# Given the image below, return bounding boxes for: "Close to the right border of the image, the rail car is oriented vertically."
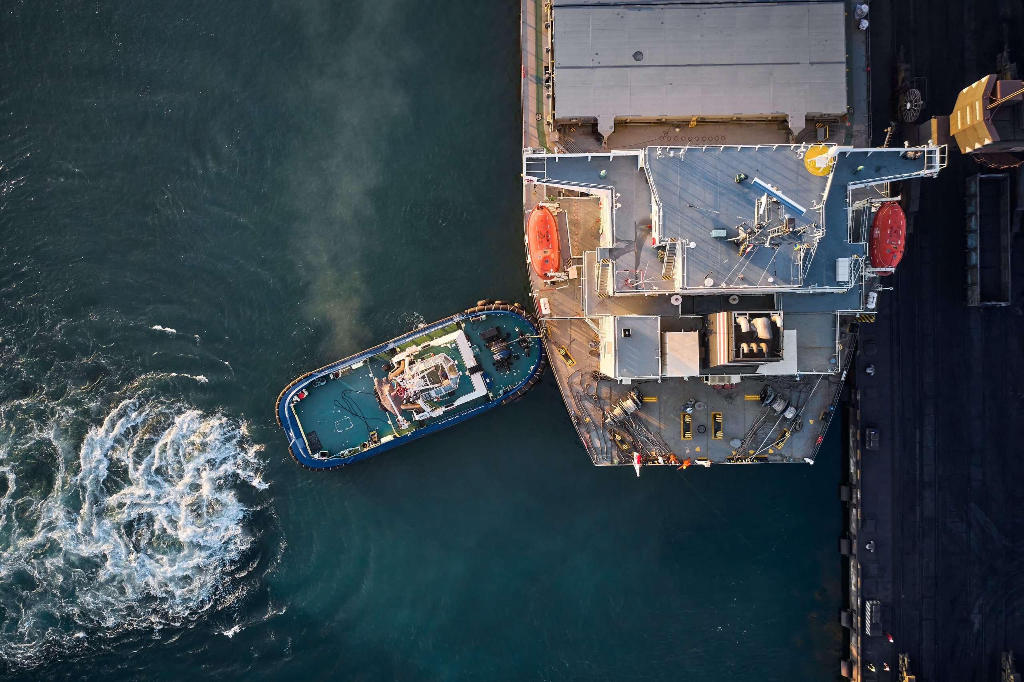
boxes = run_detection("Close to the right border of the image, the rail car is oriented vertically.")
[963,170,1011,314]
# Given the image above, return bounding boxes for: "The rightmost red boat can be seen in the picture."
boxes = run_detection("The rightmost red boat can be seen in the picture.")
[869,201,906,277]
